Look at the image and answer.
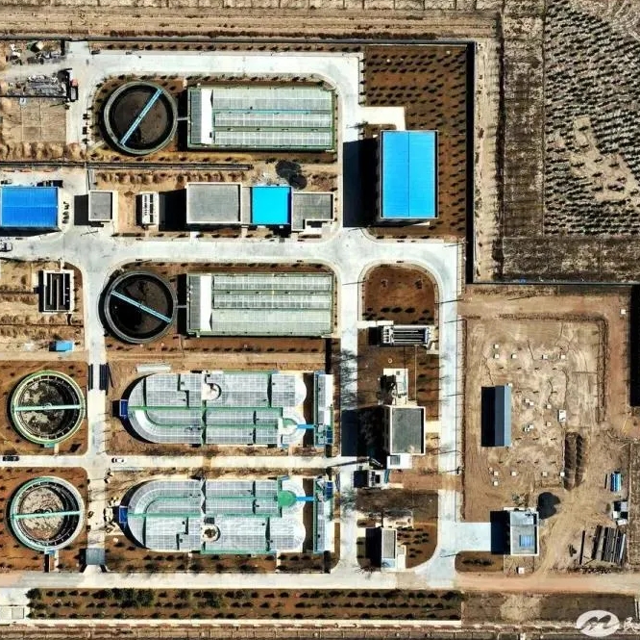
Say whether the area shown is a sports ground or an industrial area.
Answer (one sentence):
This image shows an industrial area.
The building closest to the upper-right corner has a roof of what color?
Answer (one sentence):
The roof of the building closest to the upper-right corner is blue.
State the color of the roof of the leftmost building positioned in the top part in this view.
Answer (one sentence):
The roof of the leftmost building positioned in the top part is blue.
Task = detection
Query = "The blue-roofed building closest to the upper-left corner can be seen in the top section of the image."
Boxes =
[0,187,61,230]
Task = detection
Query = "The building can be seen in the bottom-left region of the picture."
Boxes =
[0,602,25,619]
